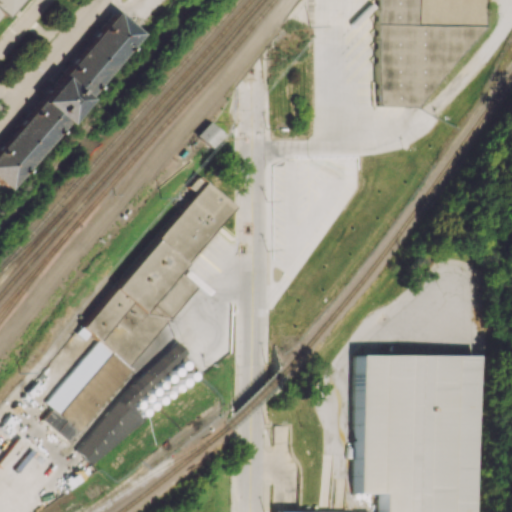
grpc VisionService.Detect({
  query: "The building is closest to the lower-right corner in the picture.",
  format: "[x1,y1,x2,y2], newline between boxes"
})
[352,354,485,512]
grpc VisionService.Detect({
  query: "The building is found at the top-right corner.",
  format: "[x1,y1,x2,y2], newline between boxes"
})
[370,0,488,108]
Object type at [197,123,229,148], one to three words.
shed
